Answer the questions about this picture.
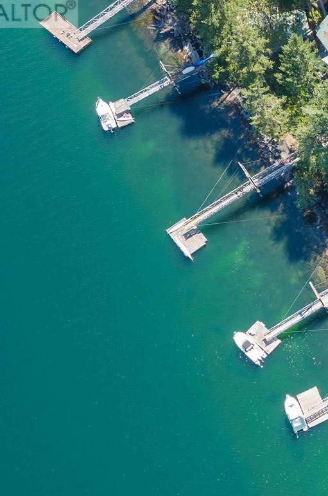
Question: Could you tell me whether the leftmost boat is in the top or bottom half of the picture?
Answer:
top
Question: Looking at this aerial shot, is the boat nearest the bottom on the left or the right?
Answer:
right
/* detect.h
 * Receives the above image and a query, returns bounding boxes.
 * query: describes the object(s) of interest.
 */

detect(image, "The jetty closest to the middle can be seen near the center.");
[166,218,209,255]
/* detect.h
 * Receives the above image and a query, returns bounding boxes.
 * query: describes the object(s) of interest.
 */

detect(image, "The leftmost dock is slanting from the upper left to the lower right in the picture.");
[39,12,92,54]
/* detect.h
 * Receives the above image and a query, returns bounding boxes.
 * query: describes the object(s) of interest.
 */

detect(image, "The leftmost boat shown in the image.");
[95,98,117,132]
